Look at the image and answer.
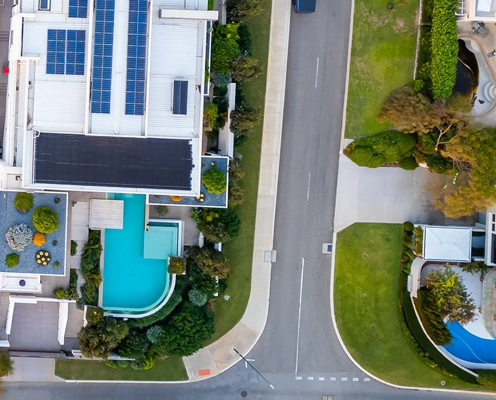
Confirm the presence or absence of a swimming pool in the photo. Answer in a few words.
Yes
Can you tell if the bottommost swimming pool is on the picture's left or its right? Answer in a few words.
right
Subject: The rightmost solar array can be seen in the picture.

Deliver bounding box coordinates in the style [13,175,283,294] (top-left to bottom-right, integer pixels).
[125,0,148,115]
